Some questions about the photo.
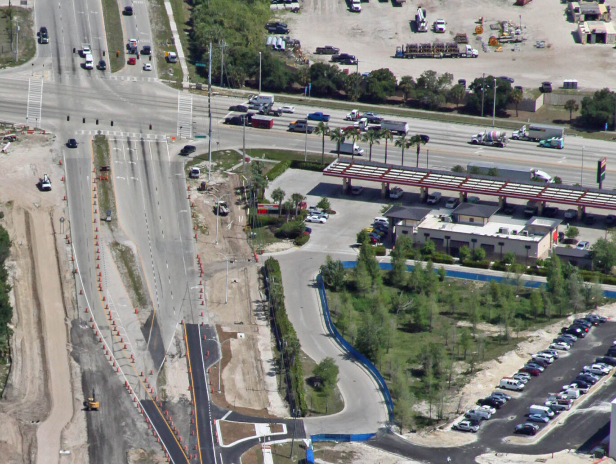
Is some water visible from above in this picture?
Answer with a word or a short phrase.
No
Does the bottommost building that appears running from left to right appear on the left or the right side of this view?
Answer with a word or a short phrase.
right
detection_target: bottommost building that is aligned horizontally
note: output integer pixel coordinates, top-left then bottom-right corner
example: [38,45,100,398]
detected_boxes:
[388,194,561,262]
